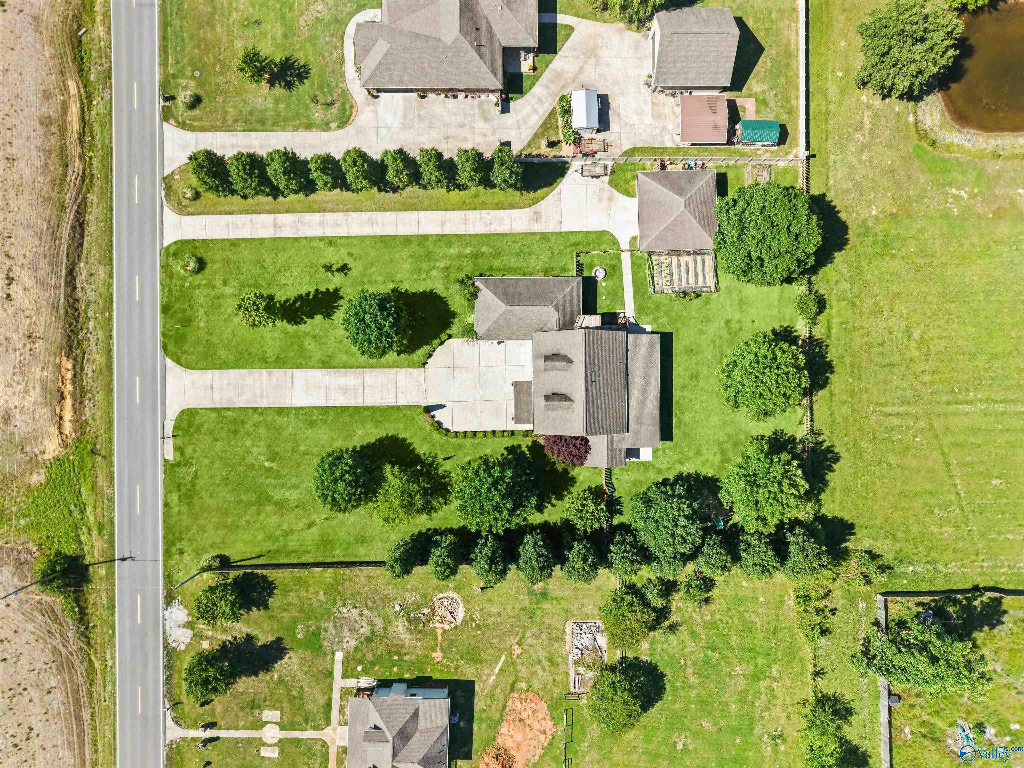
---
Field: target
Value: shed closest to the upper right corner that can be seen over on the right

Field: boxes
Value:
[736,119,780,146]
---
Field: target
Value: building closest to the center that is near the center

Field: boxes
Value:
[474,276,661,468]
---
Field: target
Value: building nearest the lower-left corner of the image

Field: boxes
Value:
[346,683,450,768]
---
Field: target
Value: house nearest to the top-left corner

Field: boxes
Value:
[353,0,538,114]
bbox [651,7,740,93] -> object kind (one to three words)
building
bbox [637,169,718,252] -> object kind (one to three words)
building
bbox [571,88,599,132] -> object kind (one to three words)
shed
